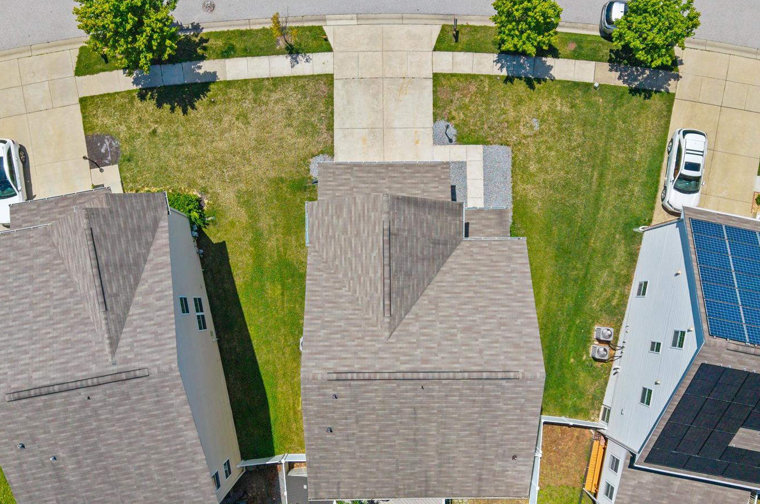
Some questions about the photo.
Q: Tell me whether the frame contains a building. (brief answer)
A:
Yes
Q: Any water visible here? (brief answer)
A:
No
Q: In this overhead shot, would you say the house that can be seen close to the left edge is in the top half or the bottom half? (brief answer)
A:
bottom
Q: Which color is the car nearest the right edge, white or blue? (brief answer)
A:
white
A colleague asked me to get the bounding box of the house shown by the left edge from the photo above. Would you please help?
[0,186,244,504]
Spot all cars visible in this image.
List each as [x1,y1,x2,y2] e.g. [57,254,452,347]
[660,129,712,210]
[0,139,32,228]
[594,2,649,46]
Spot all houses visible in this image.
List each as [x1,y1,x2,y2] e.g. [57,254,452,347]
[301,160,545,502]
[592,204,760,504]
[0,186,244,504]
